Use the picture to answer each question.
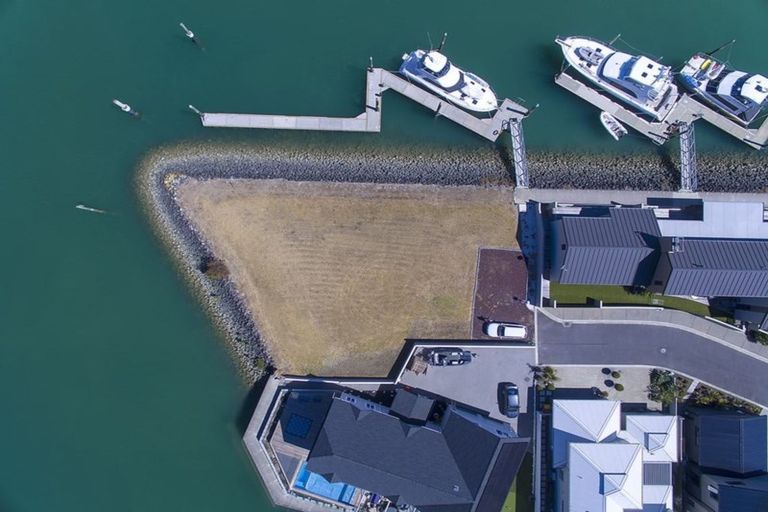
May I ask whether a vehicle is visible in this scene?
Yes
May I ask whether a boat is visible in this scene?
Yes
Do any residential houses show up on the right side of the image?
Yes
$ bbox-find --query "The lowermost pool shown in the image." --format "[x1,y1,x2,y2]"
[290,466,371,512]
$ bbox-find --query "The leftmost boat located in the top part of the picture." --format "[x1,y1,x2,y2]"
[399,32,502,113]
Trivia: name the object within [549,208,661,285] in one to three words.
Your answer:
house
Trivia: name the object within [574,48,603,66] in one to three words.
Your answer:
boat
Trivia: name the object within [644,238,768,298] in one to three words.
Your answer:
house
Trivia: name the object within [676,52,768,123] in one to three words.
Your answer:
boat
